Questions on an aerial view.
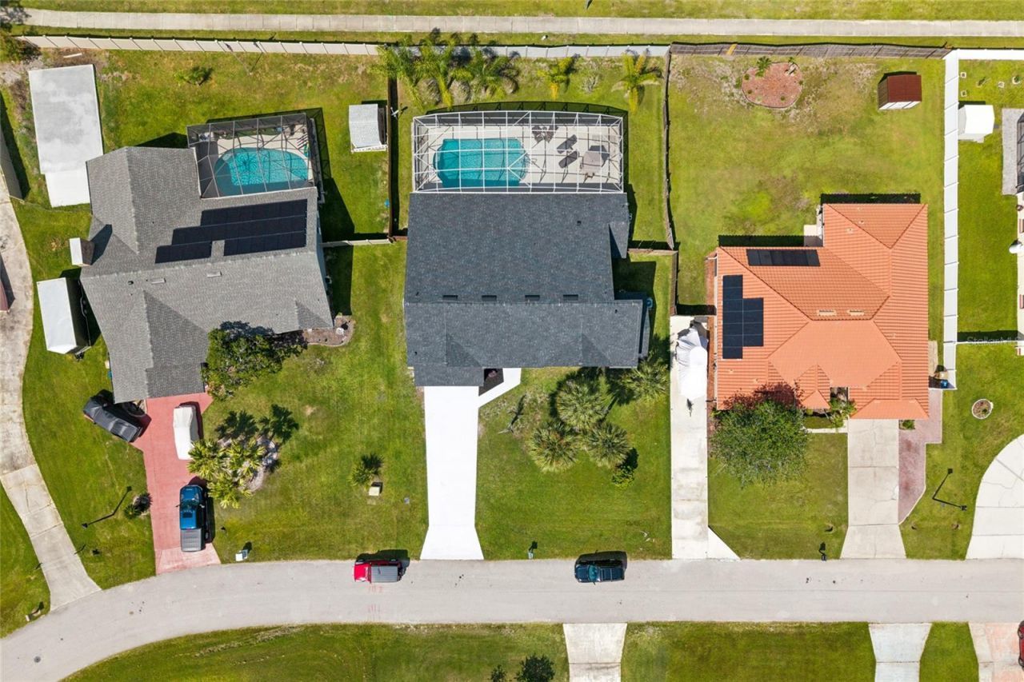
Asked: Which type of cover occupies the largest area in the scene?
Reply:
grass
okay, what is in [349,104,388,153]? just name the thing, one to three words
shed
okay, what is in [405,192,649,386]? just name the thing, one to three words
house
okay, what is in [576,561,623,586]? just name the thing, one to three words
car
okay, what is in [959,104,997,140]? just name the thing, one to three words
shed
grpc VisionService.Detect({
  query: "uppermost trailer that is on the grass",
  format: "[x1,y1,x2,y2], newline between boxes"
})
[40,278,93,363]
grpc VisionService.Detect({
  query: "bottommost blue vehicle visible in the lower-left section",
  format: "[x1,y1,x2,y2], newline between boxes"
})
[177,487,206,550]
